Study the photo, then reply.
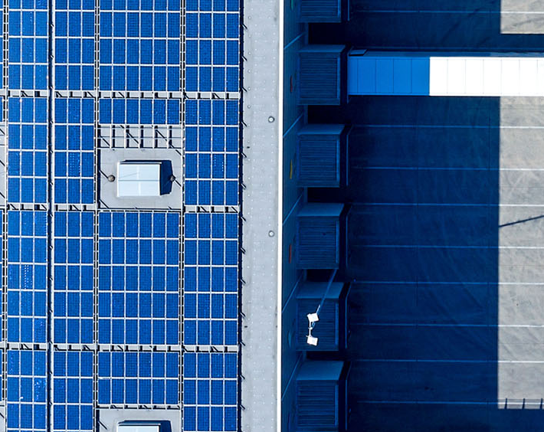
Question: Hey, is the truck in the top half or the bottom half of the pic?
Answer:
top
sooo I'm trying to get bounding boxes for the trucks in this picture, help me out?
[346,52,544,97]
